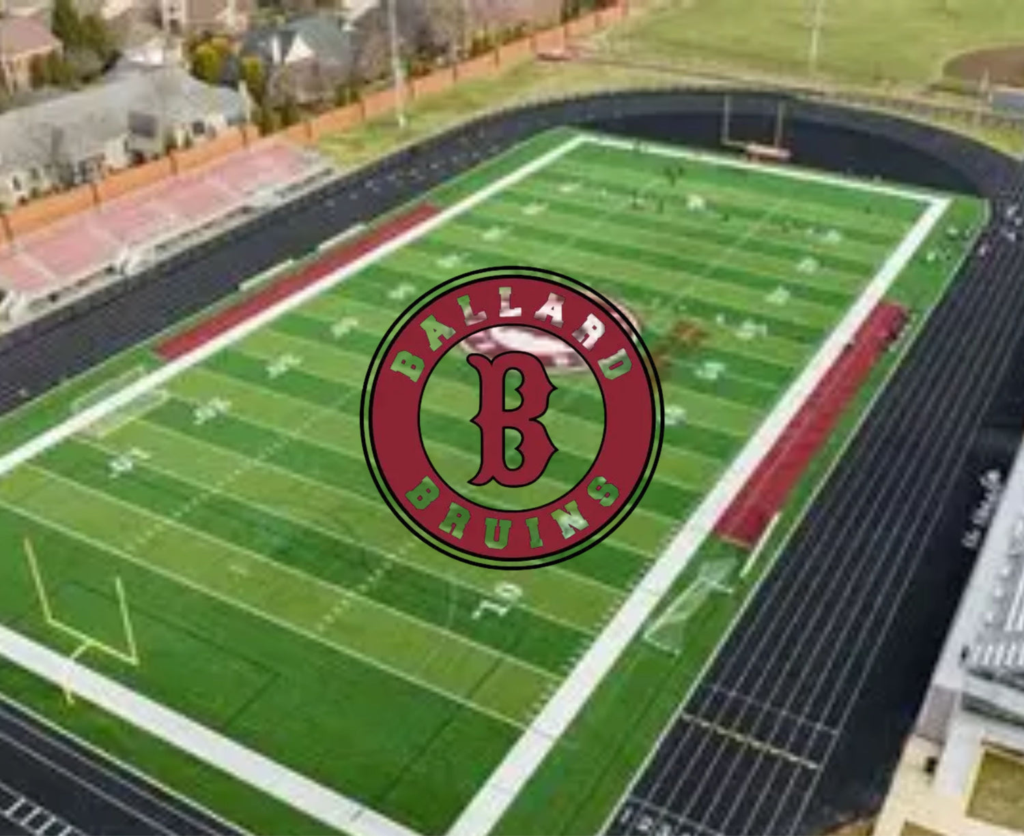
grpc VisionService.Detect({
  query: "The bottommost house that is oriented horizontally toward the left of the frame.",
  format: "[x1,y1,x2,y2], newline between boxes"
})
[0,77,267,214]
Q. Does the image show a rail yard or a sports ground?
sports ground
